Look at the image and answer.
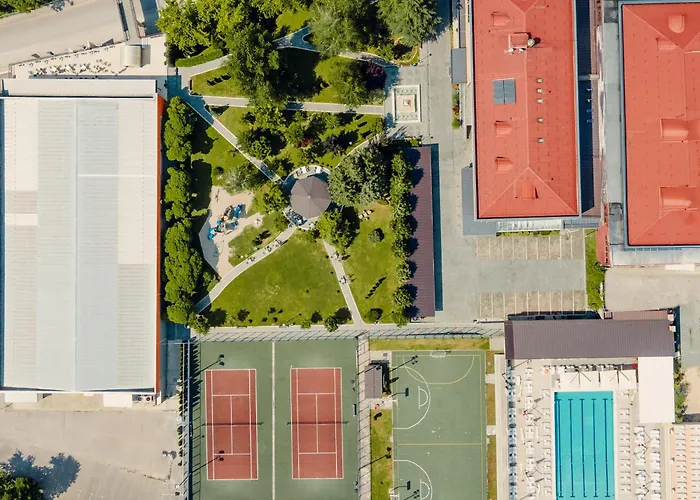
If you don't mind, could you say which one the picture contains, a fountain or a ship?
fountain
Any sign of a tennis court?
Yes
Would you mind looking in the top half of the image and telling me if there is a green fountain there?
No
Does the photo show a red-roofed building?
Yes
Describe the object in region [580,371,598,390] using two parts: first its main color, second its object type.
white umbrella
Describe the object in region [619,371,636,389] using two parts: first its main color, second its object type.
white umbrella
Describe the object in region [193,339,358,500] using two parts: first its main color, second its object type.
green tennis court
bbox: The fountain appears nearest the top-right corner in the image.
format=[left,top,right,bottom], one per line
[394,83,421,122]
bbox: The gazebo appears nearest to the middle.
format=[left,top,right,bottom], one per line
[289,176,331,219]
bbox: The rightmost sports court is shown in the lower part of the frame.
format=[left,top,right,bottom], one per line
[392,351,488,500]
